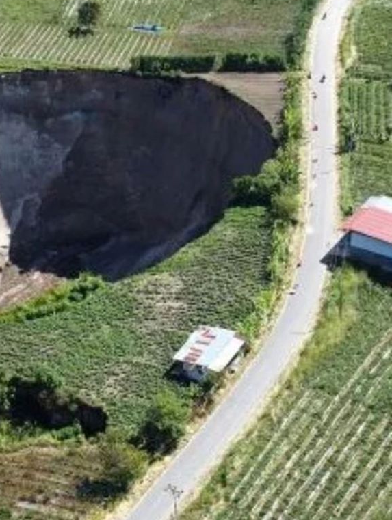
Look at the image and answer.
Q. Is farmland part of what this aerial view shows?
Yes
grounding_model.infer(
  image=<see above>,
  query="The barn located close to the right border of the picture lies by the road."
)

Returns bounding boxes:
[340,195,392,263]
